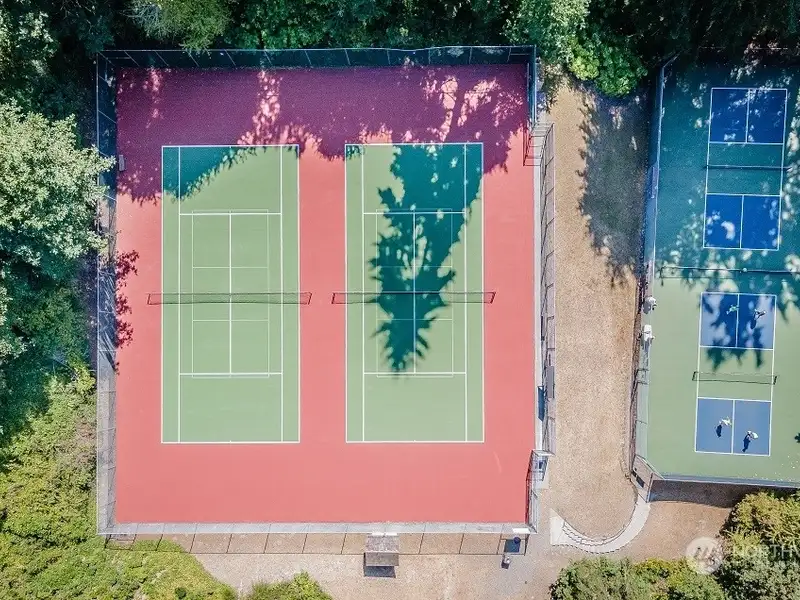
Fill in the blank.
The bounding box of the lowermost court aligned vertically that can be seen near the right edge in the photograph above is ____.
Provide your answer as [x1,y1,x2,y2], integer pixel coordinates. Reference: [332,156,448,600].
[695,292,778,459]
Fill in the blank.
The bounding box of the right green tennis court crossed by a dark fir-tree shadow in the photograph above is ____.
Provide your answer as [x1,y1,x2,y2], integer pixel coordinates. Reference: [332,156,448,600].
[345,143,484,443]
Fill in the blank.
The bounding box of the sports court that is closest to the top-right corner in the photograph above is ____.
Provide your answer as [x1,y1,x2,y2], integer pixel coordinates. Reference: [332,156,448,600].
[705,88,788,252]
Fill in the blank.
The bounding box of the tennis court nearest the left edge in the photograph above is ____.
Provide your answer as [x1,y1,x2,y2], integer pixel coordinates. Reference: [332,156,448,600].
[162,145,299,443]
